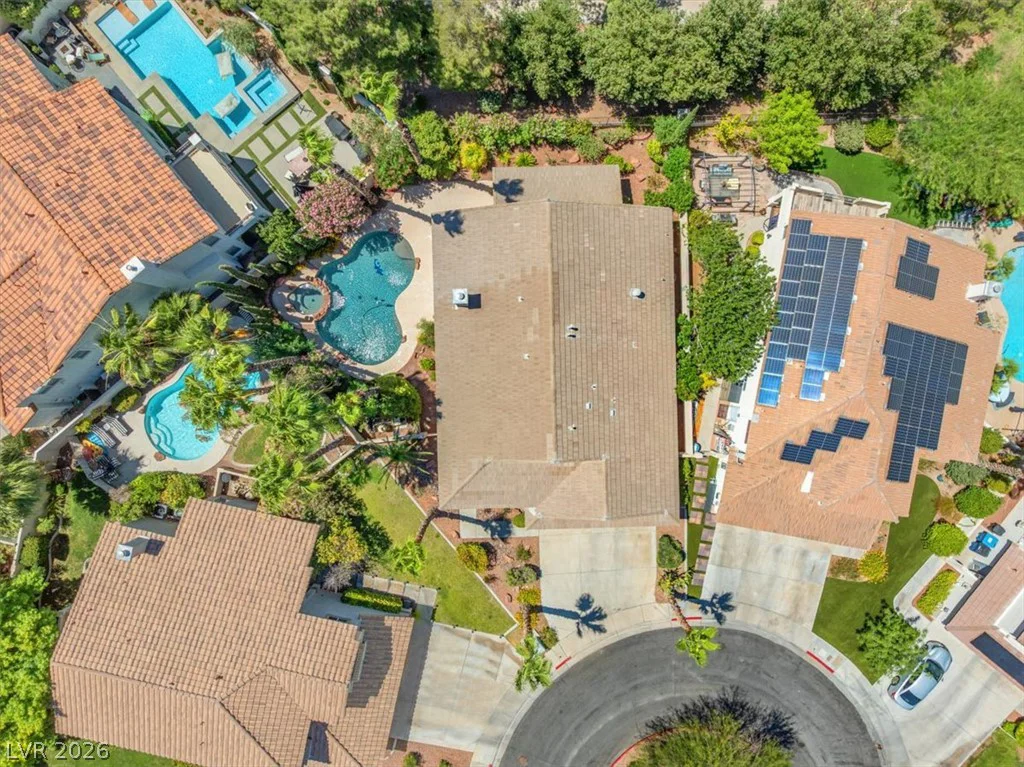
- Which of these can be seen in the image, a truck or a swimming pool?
swimming pool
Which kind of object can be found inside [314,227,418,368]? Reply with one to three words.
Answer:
swimming pool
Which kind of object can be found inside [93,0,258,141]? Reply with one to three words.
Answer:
swimming pool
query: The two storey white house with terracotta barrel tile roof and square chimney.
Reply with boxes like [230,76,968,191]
[0,33,272,452]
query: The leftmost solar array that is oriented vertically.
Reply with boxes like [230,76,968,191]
[757,218,868,406]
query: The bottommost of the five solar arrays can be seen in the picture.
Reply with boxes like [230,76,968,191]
[971,634,1024,689]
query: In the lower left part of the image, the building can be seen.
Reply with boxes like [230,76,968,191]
[48,496,413,767]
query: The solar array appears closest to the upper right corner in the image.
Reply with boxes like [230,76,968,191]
[897,237,941,299]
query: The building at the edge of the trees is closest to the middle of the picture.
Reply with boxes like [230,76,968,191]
[432,164,681,530]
